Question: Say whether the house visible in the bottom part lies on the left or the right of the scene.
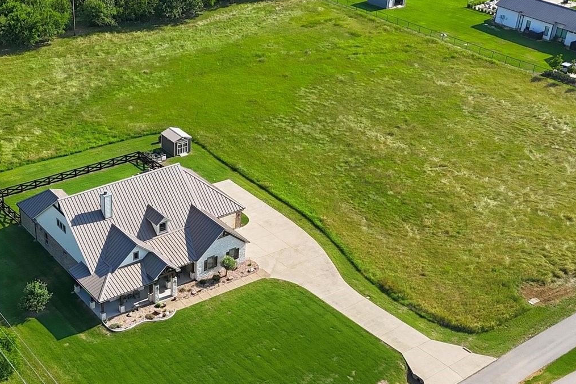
left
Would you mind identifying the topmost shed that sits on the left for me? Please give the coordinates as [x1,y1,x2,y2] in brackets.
[159,126,193,157]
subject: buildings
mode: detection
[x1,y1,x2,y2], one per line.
[368,0,406,9]
[494,0,576,43]
[159,126,193,157]
[16,164,253,320]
